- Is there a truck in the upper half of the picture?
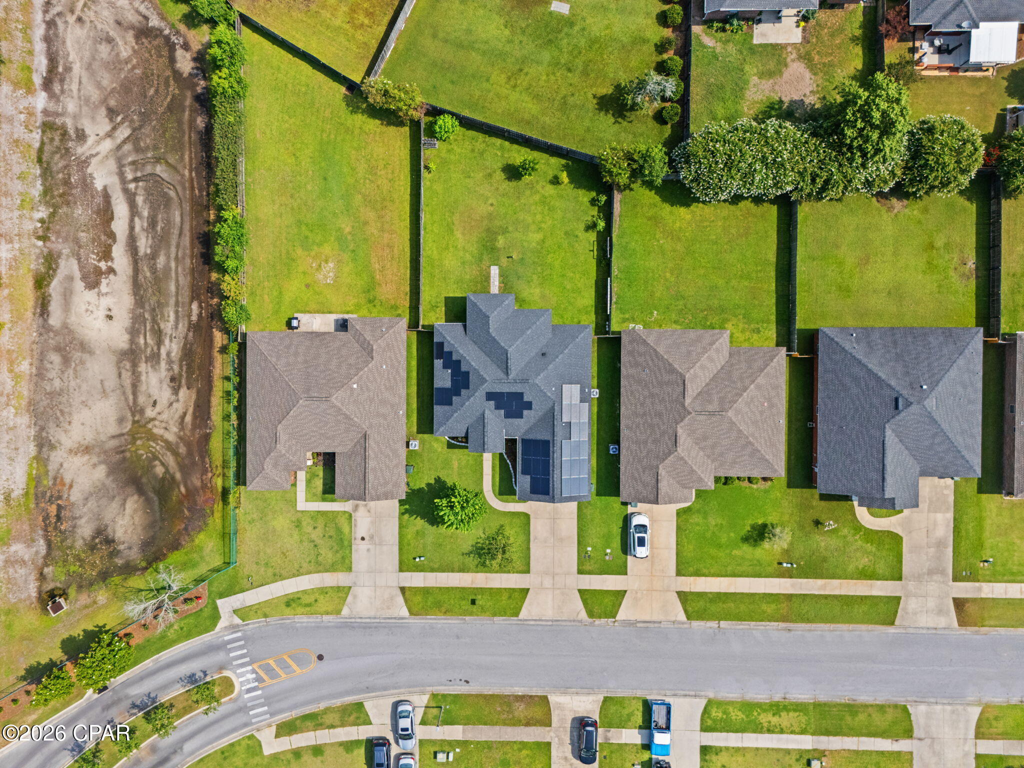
No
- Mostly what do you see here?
grass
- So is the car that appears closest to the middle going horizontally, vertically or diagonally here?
vertically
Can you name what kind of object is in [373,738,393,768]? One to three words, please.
car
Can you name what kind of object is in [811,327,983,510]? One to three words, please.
house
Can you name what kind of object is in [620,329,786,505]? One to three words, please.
house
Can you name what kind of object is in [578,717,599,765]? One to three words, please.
car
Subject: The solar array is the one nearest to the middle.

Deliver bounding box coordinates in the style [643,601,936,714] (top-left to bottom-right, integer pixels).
[486,392,532,419]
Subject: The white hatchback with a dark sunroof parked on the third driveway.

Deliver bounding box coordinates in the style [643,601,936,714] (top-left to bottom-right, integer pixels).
[630,513,651,558]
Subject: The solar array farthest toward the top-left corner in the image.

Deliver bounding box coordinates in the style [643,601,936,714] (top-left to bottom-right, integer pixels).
[434,342,469,405]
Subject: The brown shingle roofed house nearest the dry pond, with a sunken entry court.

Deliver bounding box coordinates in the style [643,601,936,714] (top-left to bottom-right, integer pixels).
[246,317,407,501]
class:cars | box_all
[578,717,599,765]
[373,738,393,768]
[398,755,417,768]
[396,700,417,750]
[630,513,651,558]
